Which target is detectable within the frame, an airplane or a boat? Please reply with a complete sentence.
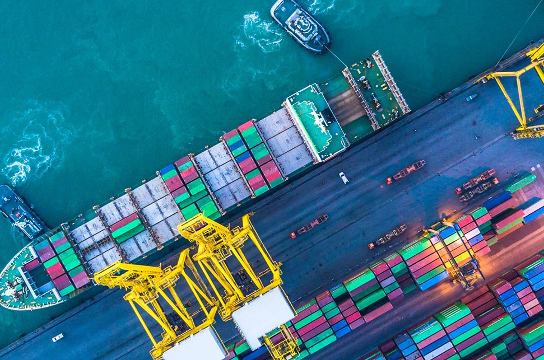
The image shows a boat.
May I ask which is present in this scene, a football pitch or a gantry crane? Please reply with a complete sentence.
The one in the frame is a gantry crane.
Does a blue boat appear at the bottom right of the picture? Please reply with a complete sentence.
No, no blue boat is visible at the bottom right of the picture.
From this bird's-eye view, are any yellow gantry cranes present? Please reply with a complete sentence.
Yes, the photo shows a yellow gantry crane.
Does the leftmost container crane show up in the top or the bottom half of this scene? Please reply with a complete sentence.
It is in the bottom half that the leftmost container crane appears.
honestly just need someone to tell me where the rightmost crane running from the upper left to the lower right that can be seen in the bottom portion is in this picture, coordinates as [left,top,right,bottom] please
[422,215,487,291]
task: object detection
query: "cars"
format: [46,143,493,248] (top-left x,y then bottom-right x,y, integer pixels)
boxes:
[465,92,478,101]
[338,172,349,184]
[51,333,64,342]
